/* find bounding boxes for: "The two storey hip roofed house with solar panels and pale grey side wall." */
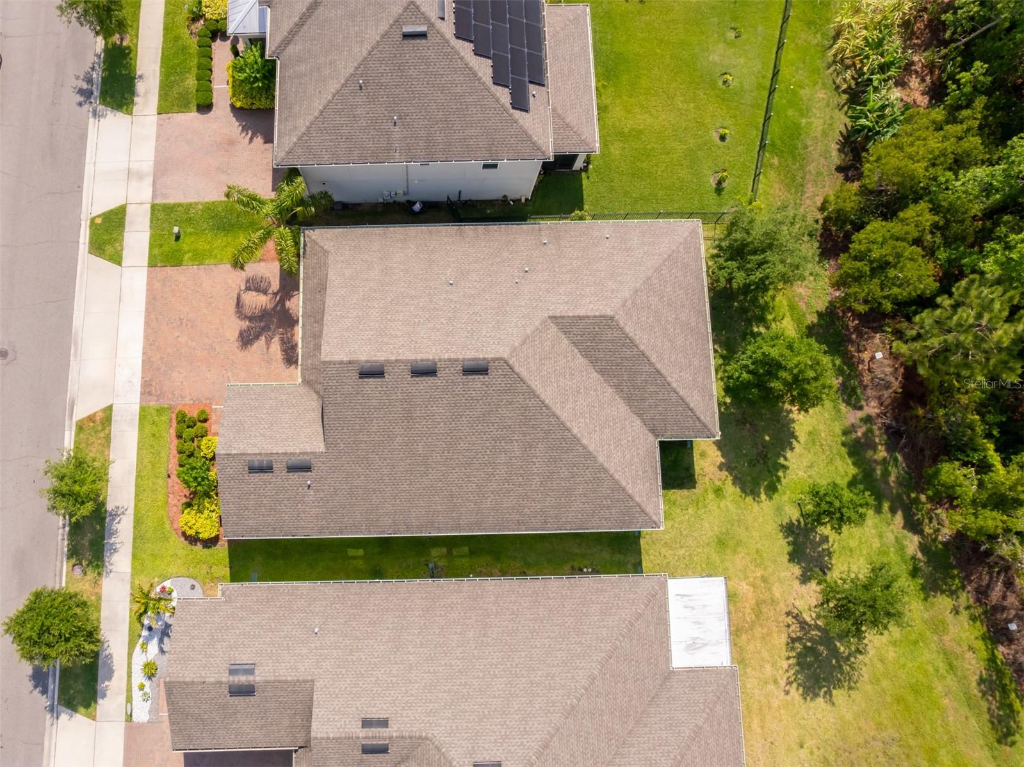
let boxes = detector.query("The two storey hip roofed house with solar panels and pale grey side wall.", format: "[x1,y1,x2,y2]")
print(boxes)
[226,0,601,203]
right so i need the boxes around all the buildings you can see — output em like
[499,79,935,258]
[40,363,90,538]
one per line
[216,218,723,539]
[226,0,601,203]
[163,573,750,767]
